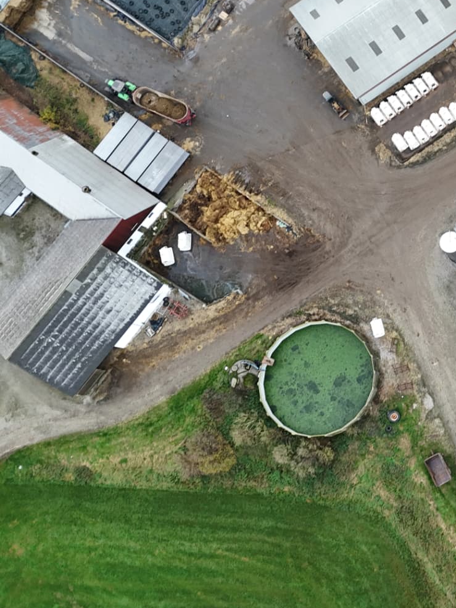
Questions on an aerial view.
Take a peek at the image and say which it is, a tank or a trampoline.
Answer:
tank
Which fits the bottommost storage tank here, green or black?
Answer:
green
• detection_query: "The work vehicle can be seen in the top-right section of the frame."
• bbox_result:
[326,94,350,121]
